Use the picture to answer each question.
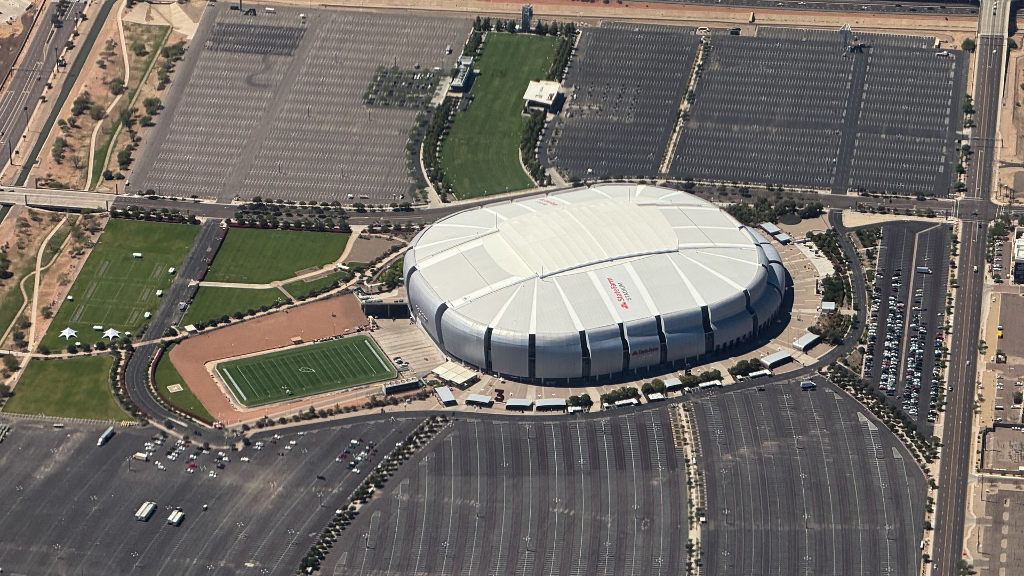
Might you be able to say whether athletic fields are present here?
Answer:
Yes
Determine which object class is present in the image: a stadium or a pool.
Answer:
stadium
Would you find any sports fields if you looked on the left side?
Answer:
Yes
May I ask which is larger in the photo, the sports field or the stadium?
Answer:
the stadium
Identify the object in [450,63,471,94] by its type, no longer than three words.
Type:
building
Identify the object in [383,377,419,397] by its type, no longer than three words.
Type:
building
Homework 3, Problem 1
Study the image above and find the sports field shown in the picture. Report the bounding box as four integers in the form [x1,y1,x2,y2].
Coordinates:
[216,334,396,407]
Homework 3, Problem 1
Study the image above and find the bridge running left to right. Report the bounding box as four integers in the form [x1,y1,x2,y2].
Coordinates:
[0,178,118,211]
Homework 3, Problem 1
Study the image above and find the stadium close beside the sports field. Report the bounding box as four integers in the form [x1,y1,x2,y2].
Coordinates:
[403,183,784,382]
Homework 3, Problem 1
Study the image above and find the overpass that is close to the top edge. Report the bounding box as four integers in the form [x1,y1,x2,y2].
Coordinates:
[967,0,1017,133]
